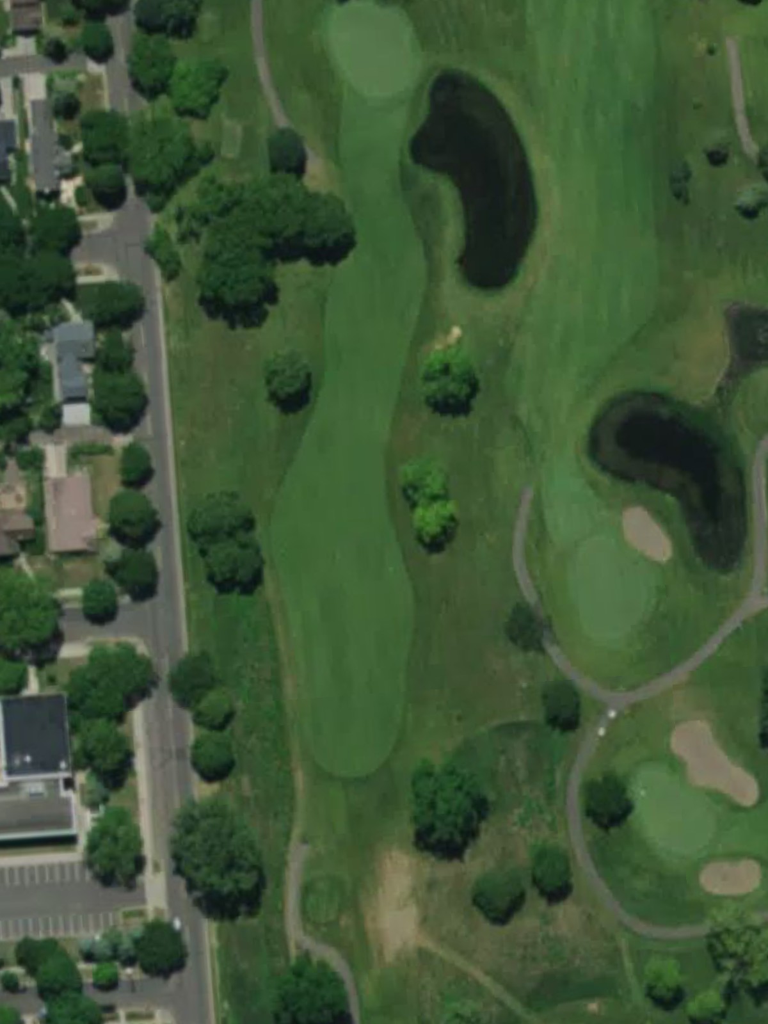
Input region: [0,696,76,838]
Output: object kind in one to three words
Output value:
building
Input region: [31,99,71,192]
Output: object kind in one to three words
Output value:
house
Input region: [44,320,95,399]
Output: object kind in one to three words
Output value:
house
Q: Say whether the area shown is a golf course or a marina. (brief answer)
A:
golf course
